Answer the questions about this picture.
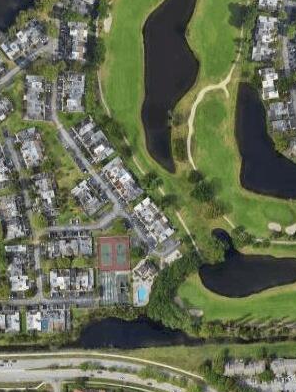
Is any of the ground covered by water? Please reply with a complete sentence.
Yes, there's water in this view.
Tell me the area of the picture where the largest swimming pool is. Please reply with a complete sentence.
The largest swimming pool is located in the bottom region of the scene.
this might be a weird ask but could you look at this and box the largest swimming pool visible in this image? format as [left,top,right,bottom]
[133,277,153,308]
